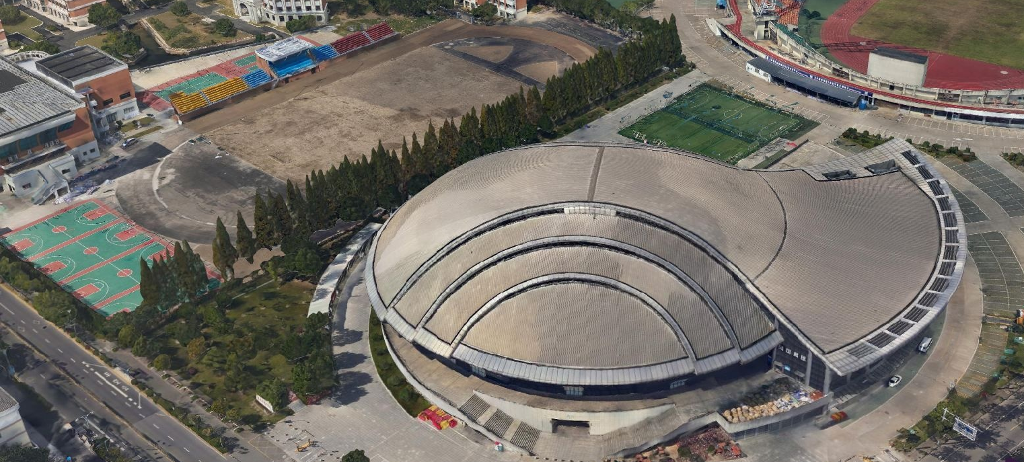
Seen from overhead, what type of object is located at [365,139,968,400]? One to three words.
stadium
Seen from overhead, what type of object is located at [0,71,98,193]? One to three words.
building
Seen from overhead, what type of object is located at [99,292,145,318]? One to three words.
basketball court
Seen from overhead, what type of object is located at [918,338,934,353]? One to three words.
vehicle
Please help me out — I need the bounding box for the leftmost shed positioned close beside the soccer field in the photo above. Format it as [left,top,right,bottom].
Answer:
[747,56,863,115]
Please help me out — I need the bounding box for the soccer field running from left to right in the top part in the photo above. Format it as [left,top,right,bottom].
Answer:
[624,85,801,161]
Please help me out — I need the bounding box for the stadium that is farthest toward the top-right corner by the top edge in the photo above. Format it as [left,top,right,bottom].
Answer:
[706,0,1024,128]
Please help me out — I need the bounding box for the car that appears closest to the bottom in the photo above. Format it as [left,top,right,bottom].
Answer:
[885,375,904,388]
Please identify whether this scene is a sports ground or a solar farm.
sports ground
